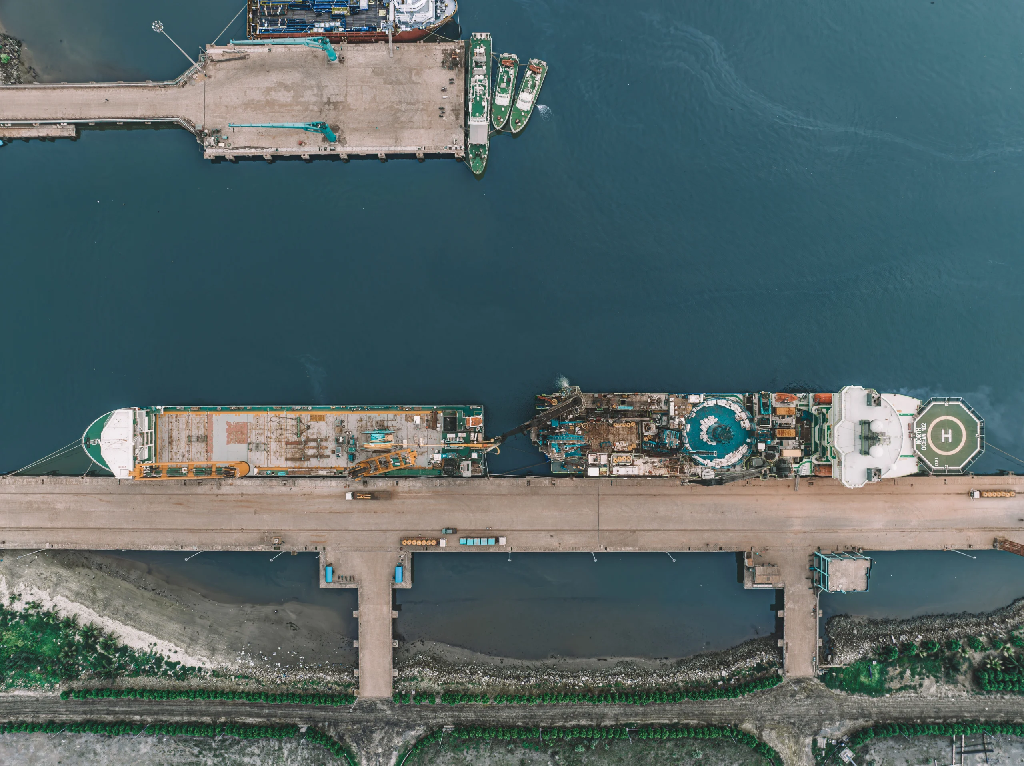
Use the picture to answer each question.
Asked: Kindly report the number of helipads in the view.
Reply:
one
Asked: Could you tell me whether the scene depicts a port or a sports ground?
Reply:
port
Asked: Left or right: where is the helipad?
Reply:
right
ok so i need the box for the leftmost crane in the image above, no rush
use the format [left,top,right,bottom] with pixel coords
[128,460,256,480]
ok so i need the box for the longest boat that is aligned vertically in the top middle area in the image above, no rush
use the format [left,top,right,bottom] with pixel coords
[468,32,492,175]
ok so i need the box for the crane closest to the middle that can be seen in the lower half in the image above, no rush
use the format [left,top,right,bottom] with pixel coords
[350,449,418,480]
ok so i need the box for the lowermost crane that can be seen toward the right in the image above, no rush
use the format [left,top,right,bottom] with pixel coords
[681,457,797,486]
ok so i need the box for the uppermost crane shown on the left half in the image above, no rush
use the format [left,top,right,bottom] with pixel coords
[230,32,339,64]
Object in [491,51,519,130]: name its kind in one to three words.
boat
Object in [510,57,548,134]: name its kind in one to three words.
boat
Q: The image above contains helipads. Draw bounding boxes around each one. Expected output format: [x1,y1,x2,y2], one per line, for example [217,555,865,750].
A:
[913,397,985,474]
